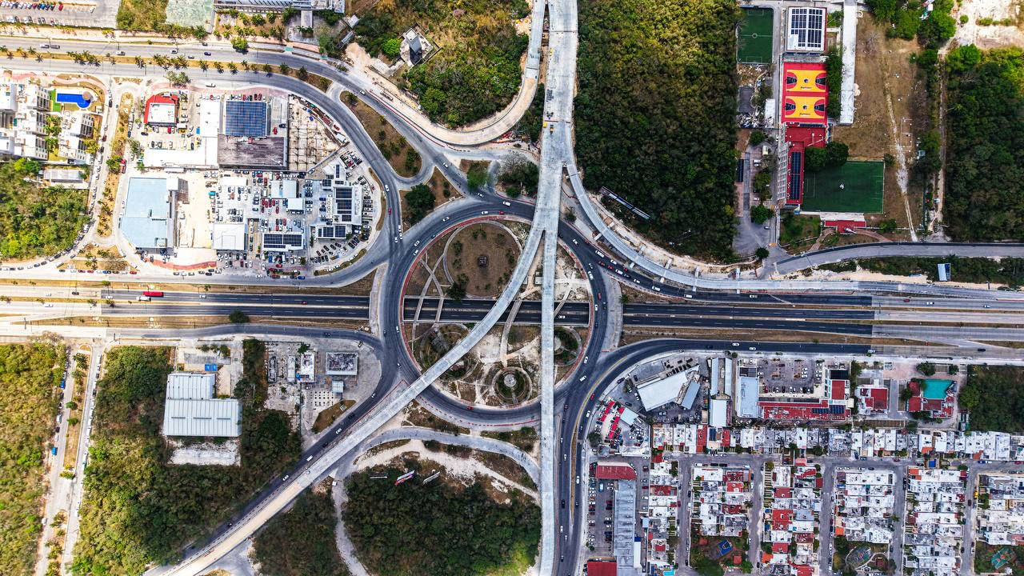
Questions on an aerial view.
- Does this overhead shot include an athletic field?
Yes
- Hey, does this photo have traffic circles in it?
Yes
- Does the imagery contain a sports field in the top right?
Yes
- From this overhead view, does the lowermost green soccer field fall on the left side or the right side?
right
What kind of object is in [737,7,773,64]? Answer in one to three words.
soccer field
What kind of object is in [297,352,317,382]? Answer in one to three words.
house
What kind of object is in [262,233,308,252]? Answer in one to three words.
building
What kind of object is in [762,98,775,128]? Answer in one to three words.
shed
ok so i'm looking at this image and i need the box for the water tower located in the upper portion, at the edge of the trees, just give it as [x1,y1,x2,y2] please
[403,27,423,57]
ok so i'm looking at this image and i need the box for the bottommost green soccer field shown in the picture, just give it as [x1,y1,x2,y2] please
[801,162,884,213]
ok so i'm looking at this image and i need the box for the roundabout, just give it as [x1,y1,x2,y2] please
[385,200,607,422]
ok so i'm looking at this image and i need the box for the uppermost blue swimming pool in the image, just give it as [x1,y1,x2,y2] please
[56,92,92,110]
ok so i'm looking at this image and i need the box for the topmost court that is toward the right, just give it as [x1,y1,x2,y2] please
[786,70,828,92]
